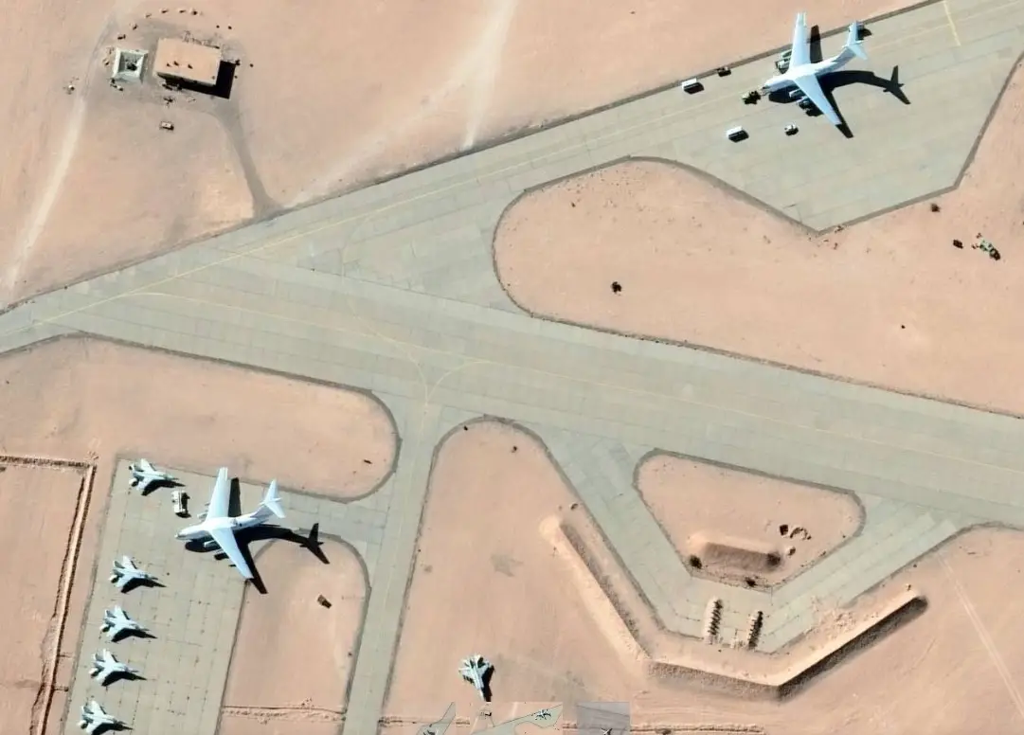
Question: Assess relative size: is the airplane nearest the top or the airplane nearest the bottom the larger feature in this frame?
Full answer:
It is the airplane nearest the top that is larger, not the airplane nearest the bottom.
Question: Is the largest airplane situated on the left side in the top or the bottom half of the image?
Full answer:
It is in the bottom half that the largest airplane situated on the left side appears.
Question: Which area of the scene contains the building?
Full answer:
The building is located in the top left region of the scene.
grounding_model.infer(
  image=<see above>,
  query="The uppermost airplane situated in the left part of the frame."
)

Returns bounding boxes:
[130,457,175,491]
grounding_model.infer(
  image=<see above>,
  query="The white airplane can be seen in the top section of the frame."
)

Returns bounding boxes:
[763,11,870,120]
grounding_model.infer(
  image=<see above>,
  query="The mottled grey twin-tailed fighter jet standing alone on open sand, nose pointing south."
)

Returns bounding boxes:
[460,652,494,700]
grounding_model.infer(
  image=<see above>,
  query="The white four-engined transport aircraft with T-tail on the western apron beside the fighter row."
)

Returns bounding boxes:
[175,464,282,577]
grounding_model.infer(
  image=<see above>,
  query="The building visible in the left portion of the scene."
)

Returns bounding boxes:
[152,39,222,88]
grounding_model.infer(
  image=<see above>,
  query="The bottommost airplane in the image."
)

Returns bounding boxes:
[78,700,123,734]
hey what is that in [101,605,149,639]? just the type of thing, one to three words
airplane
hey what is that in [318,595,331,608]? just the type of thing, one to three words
vehicle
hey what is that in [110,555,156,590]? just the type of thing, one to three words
airplane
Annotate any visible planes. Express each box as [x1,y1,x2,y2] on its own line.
[78,700,123,734]
[110,555,156,590]
[90,647,136,682]
[460,652,494,700]
[130,457,175,491]
[763,11,870,120]
[175,464,282,577]
[101,605,149,639]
